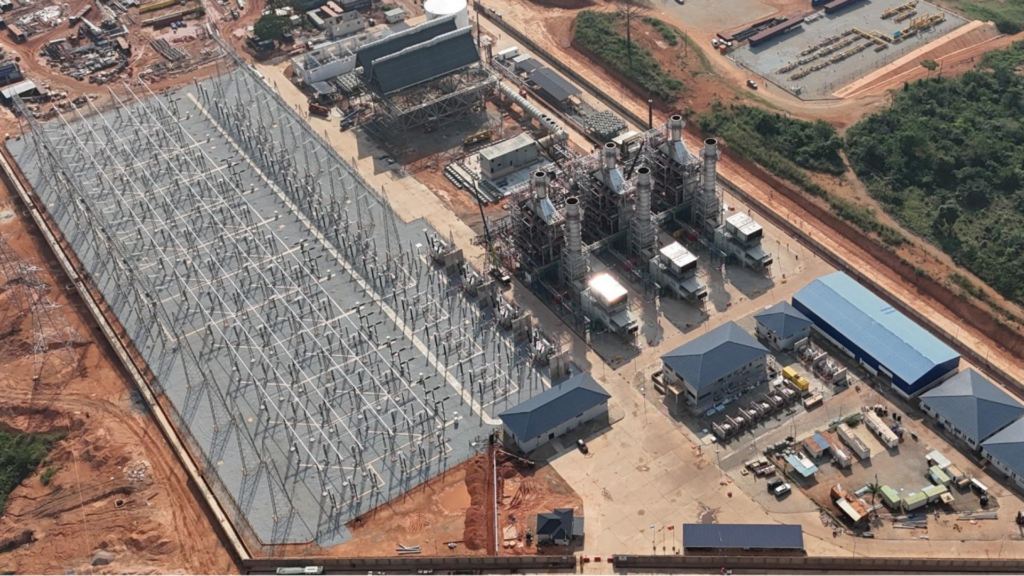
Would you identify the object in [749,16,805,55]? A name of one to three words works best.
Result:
shed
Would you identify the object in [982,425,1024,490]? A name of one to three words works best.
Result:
house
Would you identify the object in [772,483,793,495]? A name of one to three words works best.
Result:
vehicle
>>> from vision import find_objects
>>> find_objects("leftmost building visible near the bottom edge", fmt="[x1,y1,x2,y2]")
[533,508,588,548]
